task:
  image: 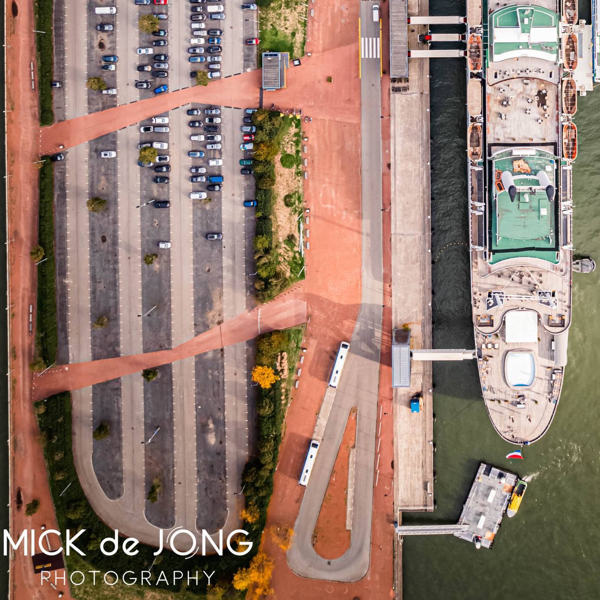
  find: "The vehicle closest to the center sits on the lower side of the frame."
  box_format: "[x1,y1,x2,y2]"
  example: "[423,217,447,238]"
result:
[329,340,349,387]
